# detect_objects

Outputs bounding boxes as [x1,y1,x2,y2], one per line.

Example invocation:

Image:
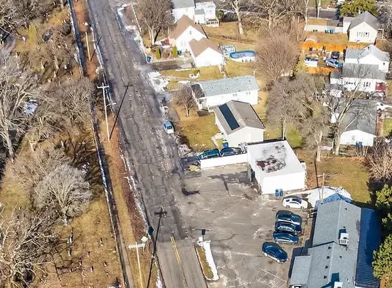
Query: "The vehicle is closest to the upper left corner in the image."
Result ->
[163,119,175,133]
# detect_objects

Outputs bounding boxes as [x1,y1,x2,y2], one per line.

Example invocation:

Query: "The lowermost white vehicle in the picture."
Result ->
[282,197,309,209]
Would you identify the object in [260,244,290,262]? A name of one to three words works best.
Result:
car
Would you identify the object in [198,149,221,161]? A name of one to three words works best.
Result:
vehicle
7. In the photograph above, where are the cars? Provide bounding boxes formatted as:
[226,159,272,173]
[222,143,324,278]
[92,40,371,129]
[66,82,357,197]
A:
[274,209,302,225]
[198,149,221,161]
[274,219,302,235]
[282,197,309,209]
[331,50,340,61]
[219,148,243,158]
[372,99,392,111]
[163,119,175,133]
[366,90,388,100]
[260,244,290,262]
[323,59,342,69]
[271,231,300,245]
